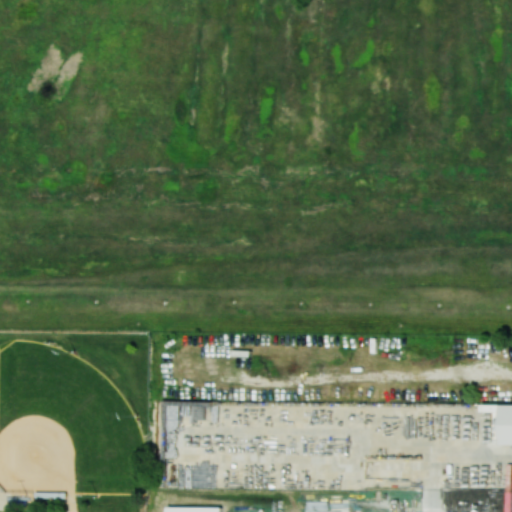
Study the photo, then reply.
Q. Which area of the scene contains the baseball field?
bottom left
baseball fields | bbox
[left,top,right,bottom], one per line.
[0,342,142,512]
